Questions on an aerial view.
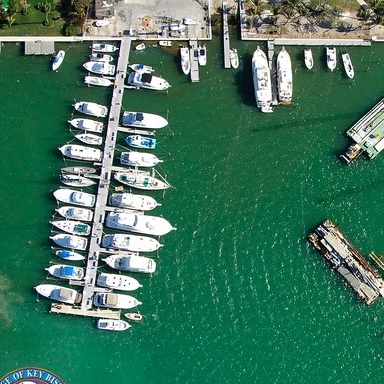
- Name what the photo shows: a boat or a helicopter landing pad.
boat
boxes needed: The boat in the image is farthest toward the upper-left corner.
[53,49,65,70]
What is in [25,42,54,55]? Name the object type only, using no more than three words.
pier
